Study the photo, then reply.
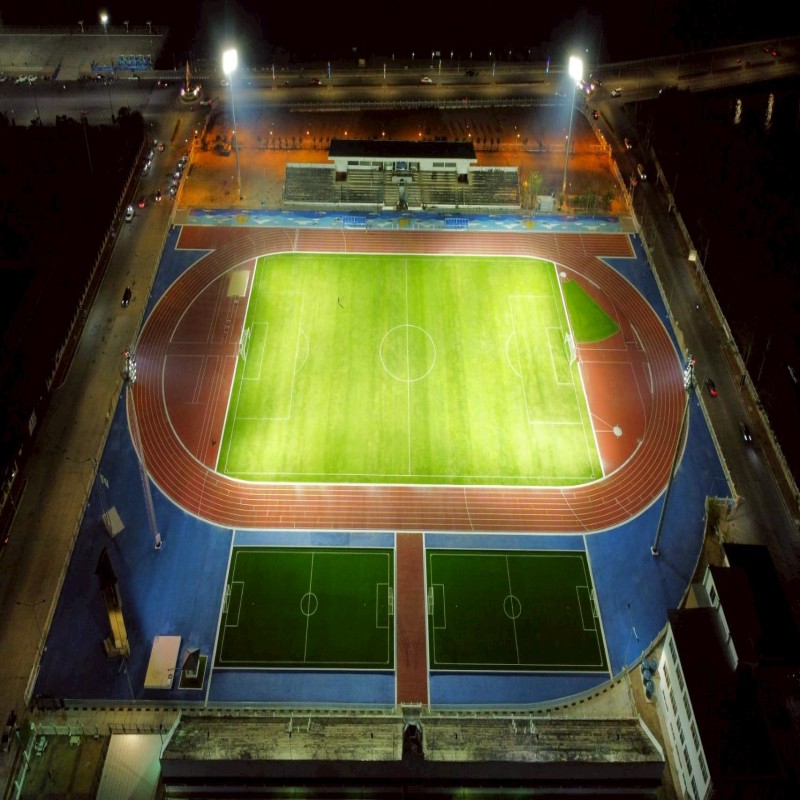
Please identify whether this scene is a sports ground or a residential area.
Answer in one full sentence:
This image shows a sports ground.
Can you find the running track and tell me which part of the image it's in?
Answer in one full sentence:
Look in the center portion of the view to spot the running track.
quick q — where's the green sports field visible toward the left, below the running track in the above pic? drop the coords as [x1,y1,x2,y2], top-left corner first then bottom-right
[213,544,394,671]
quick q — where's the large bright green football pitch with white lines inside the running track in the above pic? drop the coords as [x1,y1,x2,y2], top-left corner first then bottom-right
[214,252,604,486]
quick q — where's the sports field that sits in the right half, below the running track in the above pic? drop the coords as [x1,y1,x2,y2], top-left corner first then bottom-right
[427,546,609,673]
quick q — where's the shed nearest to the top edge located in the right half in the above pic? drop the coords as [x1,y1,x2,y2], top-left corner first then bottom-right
[538,190,557,211]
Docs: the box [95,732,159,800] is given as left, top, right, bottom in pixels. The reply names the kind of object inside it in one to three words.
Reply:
shed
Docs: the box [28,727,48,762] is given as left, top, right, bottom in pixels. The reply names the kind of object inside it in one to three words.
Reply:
car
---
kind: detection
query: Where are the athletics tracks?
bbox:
[128,227,687,533]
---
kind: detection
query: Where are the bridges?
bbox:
[623,31,800,98]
